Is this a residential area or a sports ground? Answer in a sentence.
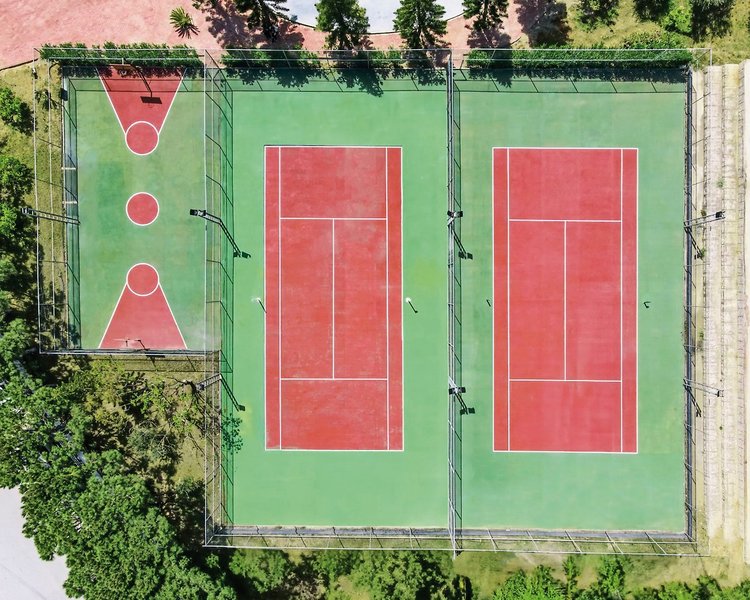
What you see here is a sports ground.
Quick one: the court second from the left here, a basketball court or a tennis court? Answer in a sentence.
It turns out the court second from the left is a tennis court.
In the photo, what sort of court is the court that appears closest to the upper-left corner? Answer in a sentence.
It looks like the court that appears closest to the upper-left corner is a basketball court.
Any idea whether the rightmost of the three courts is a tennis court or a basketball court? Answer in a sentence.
What you see as the rightmost of the three courts is a tennis court.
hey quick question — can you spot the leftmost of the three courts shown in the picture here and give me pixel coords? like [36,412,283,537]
[63,68,221,351]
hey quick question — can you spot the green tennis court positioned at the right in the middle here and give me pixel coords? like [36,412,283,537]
[448,68,685,533]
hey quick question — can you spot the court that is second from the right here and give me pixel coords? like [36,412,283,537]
[222,69,448,529]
